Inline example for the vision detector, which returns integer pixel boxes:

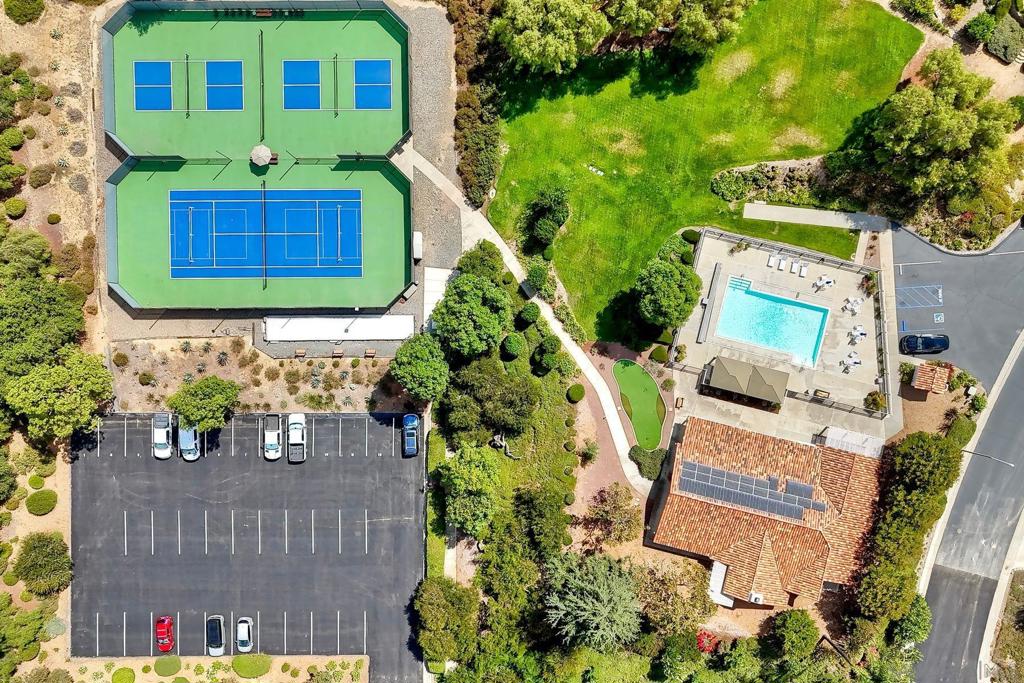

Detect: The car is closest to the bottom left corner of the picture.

[156,613,177,650]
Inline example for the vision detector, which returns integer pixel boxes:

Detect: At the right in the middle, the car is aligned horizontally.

[898,334,946,354]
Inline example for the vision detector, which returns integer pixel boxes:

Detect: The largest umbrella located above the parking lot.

[250,145,271,166]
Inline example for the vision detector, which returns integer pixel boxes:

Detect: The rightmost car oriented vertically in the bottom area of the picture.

[402,415,421,457]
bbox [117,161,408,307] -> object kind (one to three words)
tennis court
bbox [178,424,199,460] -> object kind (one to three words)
car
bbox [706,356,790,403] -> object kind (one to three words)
building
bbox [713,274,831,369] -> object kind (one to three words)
swimming pool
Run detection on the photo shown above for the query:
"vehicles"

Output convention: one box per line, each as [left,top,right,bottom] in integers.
[262,414,283,460]
[402,415,421,457]
[178,424,199,460]
[898,334,946,354]
[156,613,177,650]
[287,413,307,462]
[206,612,228,654]
[236,614,255,650]
[151,413,173,459]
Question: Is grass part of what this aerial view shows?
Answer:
Yes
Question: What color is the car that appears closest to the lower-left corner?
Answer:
red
